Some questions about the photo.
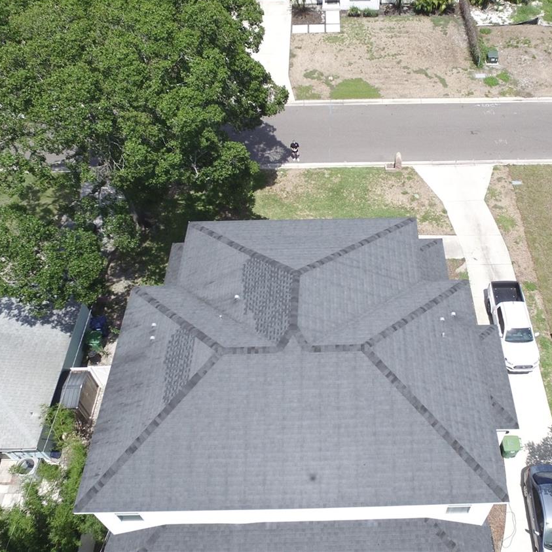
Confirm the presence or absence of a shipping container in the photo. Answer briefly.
No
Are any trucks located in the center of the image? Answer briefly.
No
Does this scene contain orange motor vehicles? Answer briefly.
No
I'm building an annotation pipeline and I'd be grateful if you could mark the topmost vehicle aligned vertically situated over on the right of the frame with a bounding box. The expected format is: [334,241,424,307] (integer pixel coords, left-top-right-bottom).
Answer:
[487,283,544,380]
